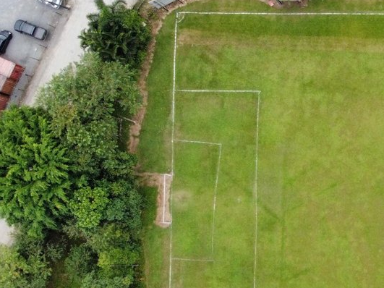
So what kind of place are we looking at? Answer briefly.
sports ground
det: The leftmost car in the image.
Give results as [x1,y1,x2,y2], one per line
[0,27,15,58]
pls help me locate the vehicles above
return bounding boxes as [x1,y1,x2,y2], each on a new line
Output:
[0,27,15,58]
[14,19,50,41]
[36,0,66,11]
